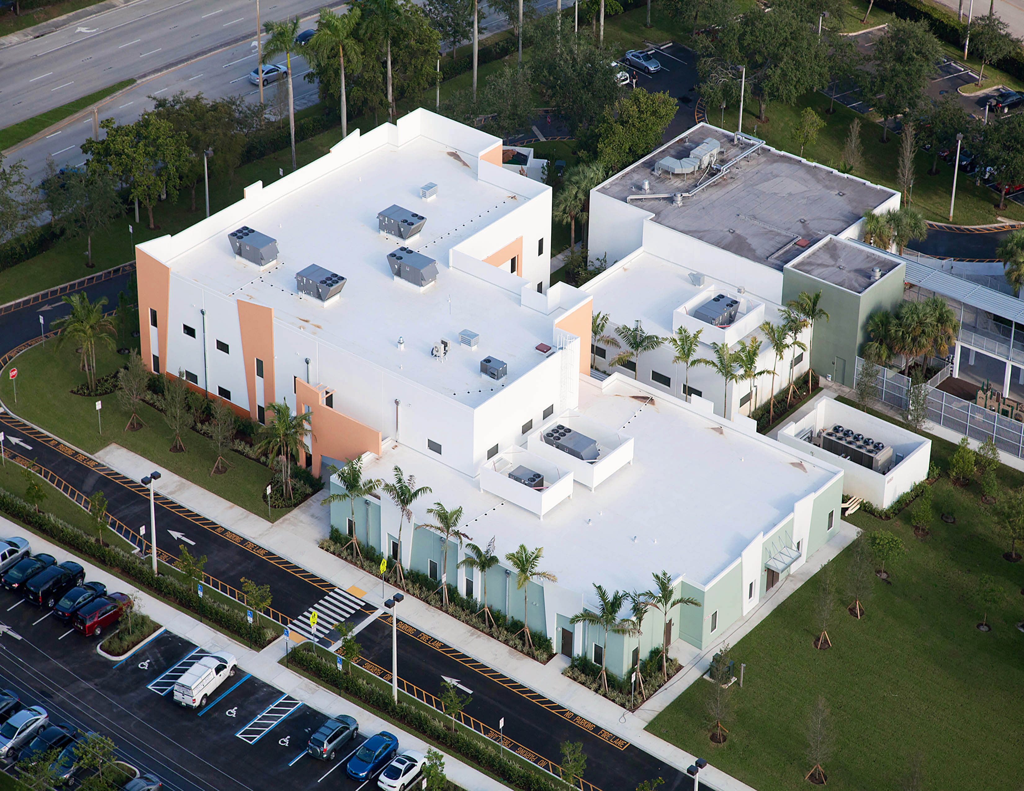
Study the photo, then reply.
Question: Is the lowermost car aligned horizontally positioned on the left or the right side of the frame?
left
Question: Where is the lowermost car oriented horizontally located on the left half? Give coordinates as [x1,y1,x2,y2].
[111,766,165,791]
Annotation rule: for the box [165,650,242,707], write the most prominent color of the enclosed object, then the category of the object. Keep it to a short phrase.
white truck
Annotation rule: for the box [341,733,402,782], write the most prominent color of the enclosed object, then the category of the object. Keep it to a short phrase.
blue car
